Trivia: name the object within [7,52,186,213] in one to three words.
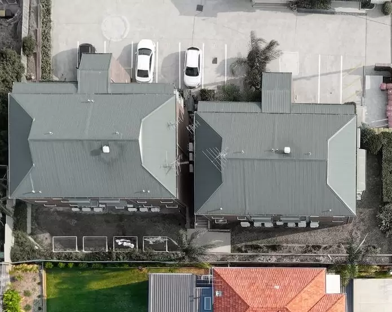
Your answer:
building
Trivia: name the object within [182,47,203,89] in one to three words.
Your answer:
car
